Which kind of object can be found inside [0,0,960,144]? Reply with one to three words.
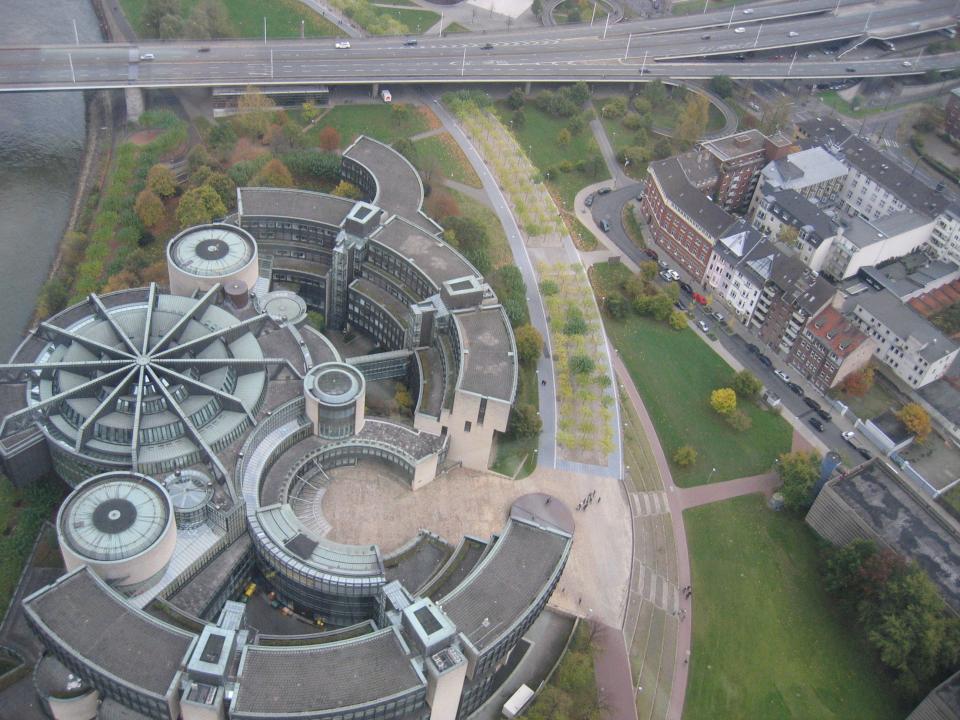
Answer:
bridge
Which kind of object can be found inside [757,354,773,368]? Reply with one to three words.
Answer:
vehicle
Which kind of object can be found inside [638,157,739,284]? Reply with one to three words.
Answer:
building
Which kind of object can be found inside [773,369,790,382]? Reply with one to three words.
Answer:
vehicle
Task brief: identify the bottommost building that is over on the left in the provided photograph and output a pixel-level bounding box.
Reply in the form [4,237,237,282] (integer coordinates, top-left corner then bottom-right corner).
[0,134,574,720]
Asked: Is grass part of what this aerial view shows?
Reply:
Yes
